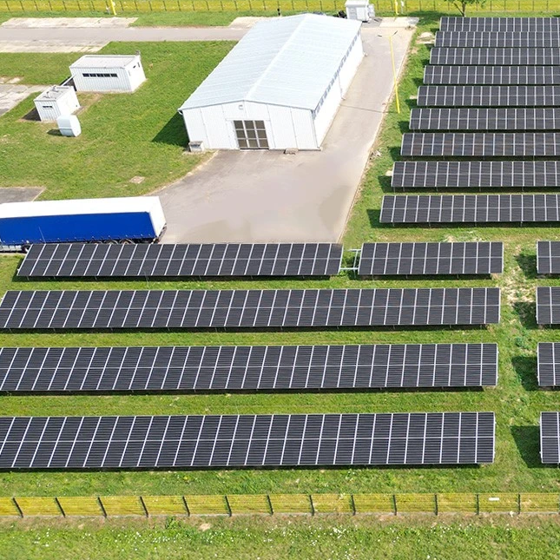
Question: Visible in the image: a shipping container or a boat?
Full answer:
The image shows a shipping container.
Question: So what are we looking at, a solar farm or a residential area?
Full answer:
The area seen from above is a solar farm.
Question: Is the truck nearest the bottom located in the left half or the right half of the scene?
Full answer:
The truck nearest the bottom sits on the left side.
